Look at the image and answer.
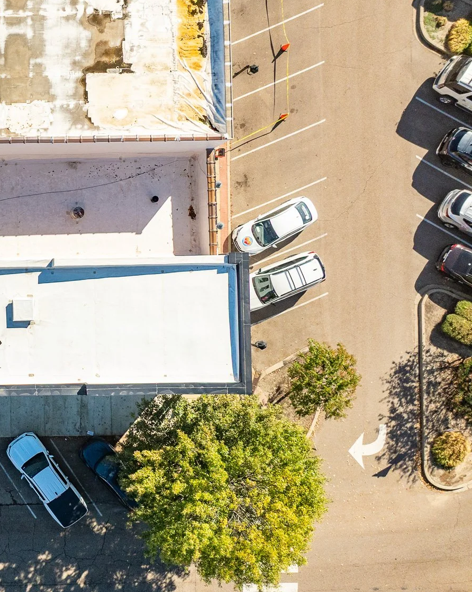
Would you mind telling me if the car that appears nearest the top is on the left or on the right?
right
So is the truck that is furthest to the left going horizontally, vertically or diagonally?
diagonally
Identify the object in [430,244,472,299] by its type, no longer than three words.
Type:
car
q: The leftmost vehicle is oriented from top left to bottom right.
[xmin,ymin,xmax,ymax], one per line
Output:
[7,430,90,531]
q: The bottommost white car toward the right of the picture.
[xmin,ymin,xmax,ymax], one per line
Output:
[250,250,328,310]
